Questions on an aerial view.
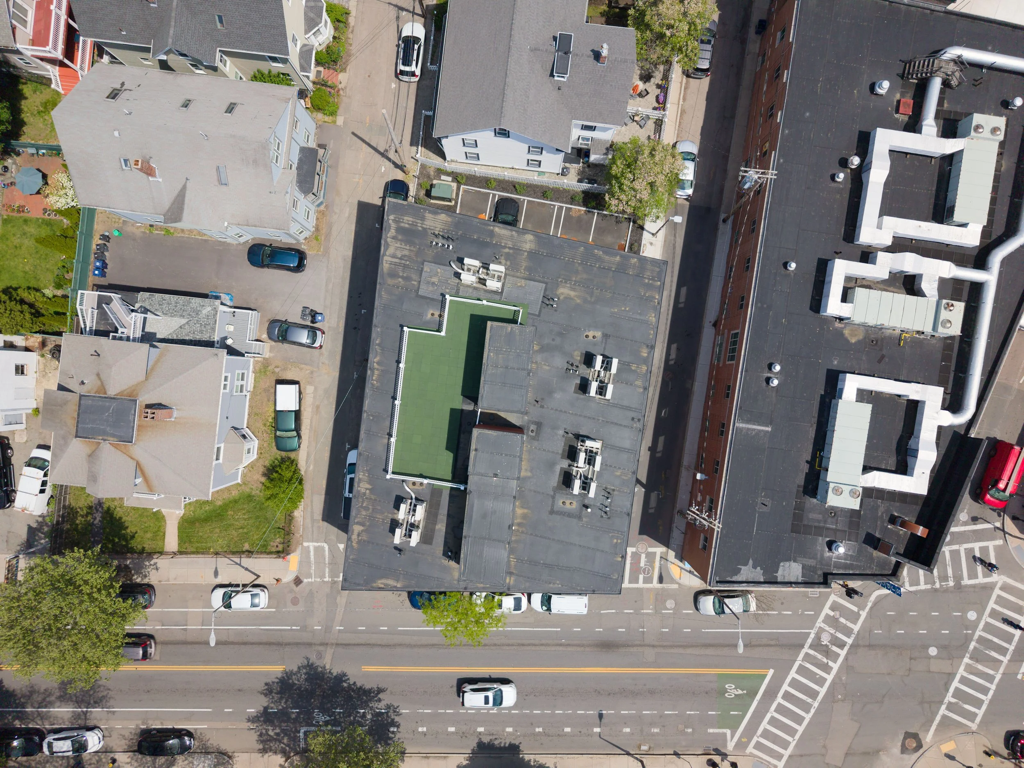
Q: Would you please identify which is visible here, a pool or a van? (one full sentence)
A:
I can see a van in this picture.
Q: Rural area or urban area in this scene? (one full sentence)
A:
From above, the setting appears urban.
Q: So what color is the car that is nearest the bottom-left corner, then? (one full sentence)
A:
The car that is nearest the bottom-left corner looks black in the image.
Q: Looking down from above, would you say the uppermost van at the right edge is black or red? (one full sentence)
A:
In this view, the uppermost van at the right edge is red.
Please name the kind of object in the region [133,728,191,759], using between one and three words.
car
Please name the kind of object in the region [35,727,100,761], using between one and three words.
car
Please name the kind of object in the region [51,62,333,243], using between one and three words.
house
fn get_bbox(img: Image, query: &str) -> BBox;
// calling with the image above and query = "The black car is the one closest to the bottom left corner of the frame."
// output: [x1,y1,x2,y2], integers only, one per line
[0,730,39,762]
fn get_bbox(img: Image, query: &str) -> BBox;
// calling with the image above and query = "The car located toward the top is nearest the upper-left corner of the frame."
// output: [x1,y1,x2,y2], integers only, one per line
[245,240,306,273]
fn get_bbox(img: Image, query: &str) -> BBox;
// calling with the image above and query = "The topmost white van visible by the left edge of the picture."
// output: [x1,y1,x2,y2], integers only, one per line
[8,445,51,514]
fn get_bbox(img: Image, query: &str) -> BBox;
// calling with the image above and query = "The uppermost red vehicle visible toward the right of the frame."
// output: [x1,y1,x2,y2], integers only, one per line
[978,443,1024,511]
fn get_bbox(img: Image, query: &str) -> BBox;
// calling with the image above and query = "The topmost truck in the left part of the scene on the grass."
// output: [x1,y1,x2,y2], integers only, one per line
[269,382,300,451]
